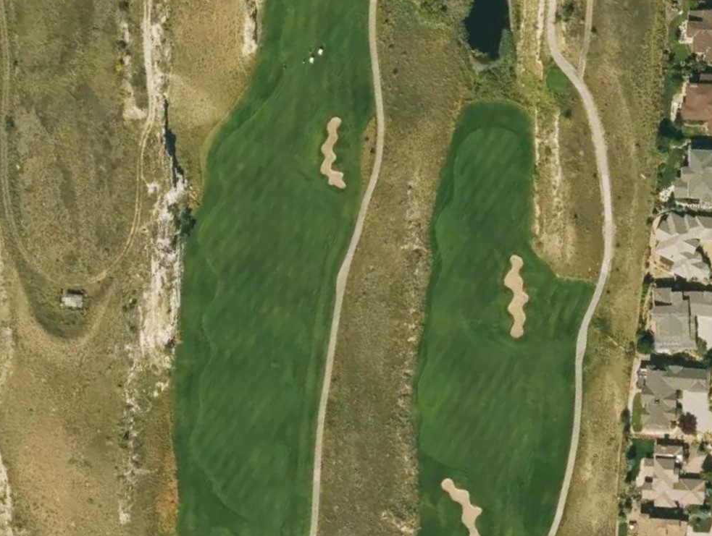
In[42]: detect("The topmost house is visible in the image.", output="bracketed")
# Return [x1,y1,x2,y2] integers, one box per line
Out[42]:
[687,8,712,58]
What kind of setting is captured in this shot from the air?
golf course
